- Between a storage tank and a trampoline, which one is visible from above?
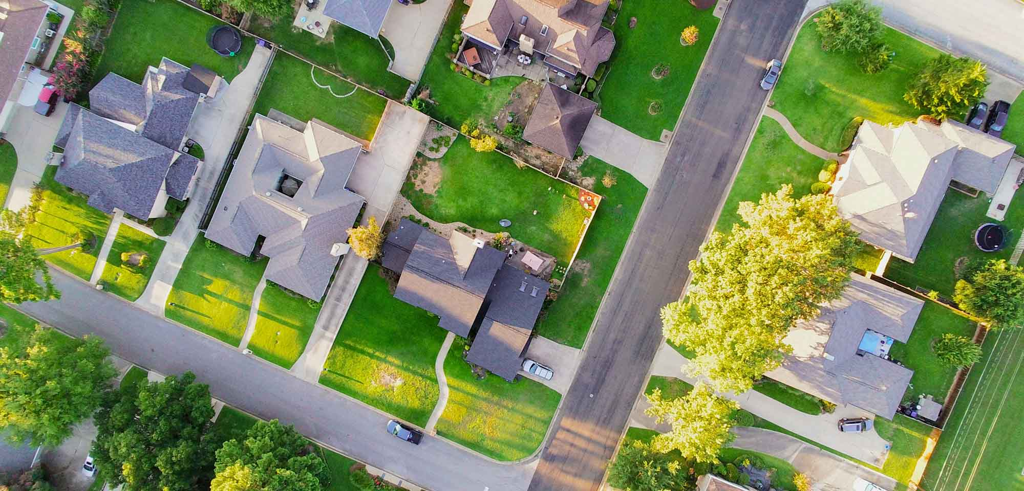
trampoline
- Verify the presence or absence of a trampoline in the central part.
No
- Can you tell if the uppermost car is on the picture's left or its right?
right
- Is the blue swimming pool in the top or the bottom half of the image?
bottom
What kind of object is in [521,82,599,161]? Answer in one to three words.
building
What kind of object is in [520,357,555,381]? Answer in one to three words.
car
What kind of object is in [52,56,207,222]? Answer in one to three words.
house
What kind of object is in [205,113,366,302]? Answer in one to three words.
house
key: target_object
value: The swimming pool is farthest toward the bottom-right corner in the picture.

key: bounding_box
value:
[859,330,894,359]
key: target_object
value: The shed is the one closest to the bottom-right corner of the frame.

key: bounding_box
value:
[910,396,943,422]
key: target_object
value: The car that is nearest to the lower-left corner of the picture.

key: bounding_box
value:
[79,447,100,481]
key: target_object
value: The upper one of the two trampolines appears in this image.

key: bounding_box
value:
[204,19,242,55]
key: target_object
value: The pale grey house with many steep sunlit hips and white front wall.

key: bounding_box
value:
[829,119,1016,264]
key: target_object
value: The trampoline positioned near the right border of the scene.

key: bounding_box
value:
[974,223,1015,254]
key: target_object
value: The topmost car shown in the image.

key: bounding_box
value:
[760,56,782,92]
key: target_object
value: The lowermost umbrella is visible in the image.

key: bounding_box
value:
[521,251,544,271]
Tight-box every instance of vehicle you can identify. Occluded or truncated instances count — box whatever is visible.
[980,96,1011,136]
[520,357,555,381]
[854,475,891,491]
[33,83,55,117]
[838,417,874,434]
[384,418,424,449]
[962,104,987,129]
[79,447,100,481]
[760,56,782,92]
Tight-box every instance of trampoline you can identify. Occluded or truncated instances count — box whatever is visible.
[974,223,1015,254]
[204,19,242,55]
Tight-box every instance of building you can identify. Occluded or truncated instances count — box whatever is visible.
[382,218,508,339]
[521,82,599,161]
[764,263,925,421]
[323,0,397,40]
[910,396,943,422]
[829,119,1016,264]
[461,0,621,78]
[52,56,207,222]
[205,113,366,302]
[466,263,550,383]
[697,472,747,491]
[0,0,59,143]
